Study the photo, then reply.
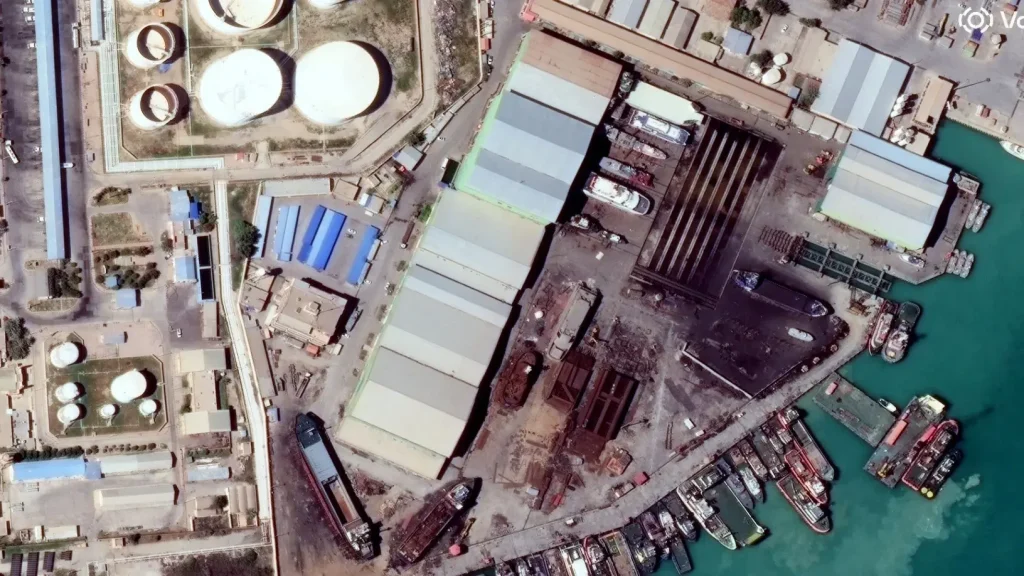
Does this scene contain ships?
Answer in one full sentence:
Yes, the image includes a ship.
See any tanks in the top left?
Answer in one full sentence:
Yes, there is a tank in the top left.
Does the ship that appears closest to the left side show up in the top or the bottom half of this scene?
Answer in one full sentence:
Seen from above, the ship that appears closest to the left side lies in the bottom half of the view.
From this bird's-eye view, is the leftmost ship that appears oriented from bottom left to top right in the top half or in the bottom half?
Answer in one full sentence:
Seen from above, the leftmost ship that appears oriented from bottom left to top right lies in the bottom half of the view.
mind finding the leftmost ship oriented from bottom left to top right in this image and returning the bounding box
[391,479,474,564]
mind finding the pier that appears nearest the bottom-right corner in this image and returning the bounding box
[811,372,897,448]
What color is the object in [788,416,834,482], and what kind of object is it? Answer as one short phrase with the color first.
gray ship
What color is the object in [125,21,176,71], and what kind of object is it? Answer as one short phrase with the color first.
white storage tank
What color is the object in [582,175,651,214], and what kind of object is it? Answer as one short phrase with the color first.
white vessel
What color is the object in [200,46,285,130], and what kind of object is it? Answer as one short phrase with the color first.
white storage tank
